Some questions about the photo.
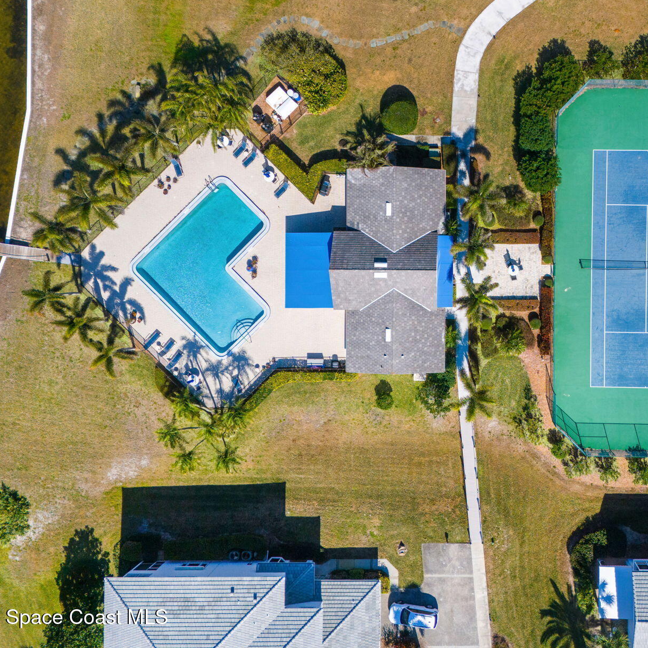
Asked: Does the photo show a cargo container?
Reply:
No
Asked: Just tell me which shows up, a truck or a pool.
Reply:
pool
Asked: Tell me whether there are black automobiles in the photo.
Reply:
No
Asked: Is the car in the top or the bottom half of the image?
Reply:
bottom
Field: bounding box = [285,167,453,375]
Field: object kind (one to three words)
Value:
building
